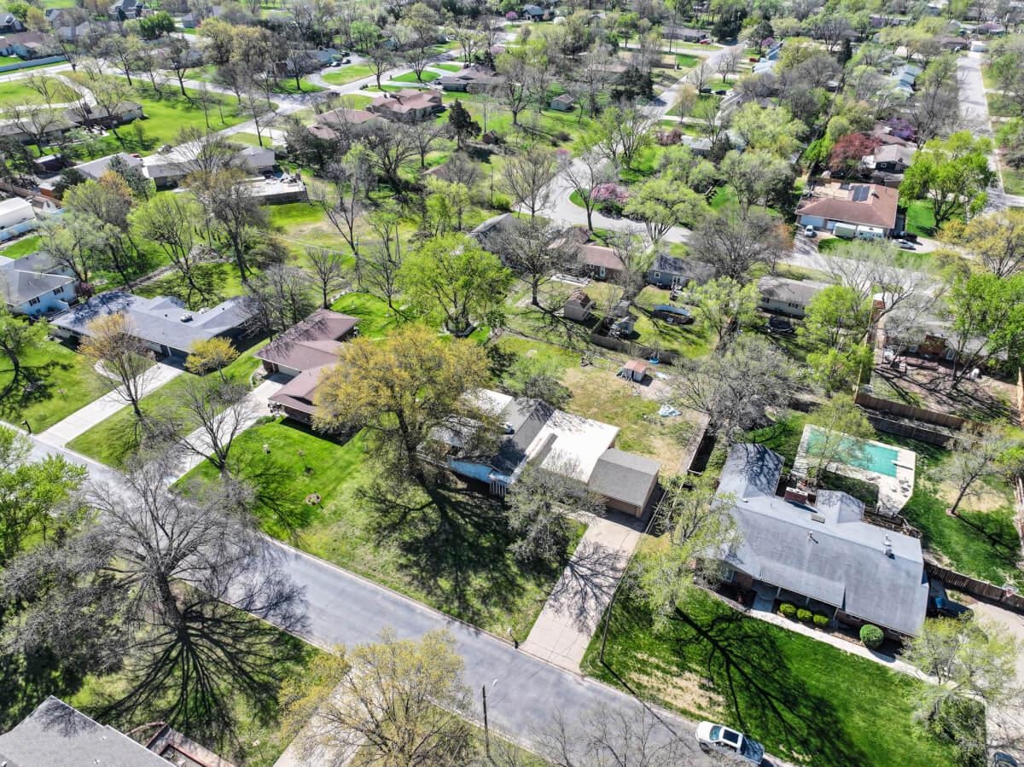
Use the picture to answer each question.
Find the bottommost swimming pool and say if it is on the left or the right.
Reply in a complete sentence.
The bottommost swimming pool sits on the right side.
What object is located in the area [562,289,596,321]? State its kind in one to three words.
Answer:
shed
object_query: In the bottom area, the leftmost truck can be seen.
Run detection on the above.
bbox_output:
[694,721,769,767]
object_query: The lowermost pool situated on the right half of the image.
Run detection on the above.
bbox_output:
[790,424,915,515]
